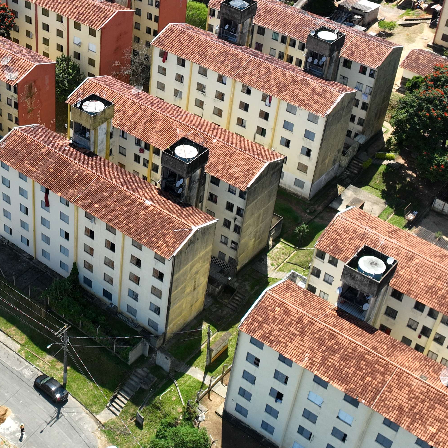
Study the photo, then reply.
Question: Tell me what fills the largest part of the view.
buildings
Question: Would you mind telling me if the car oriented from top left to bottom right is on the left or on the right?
left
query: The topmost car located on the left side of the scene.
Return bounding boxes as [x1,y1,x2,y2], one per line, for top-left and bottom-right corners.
[31,372,69,403]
